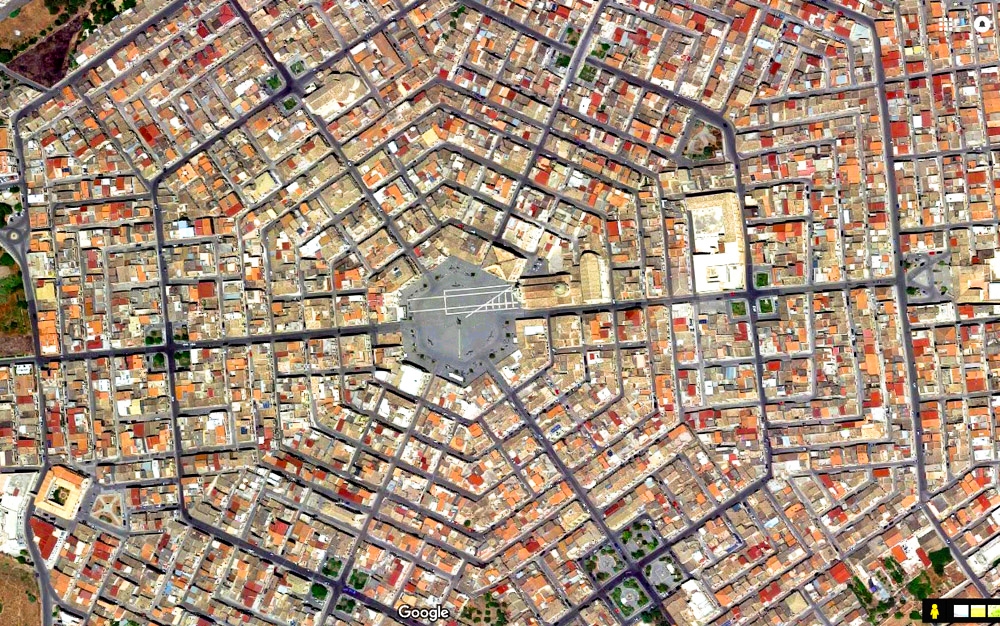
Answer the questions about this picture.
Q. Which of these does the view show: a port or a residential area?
residential area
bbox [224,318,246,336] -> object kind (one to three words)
house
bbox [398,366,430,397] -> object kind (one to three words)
building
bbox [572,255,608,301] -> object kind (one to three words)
building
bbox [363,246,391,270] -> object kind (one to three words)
house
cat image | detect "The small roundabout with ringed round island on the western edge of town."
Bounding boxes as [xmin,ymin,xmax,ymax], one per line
[0,216,28,256]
